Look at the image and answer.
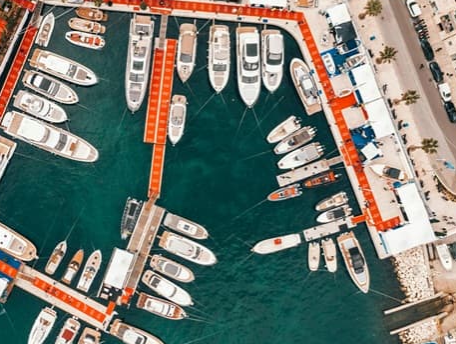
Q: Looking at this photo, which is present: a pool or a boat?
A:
boat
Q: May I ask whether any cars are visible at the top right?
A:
Yes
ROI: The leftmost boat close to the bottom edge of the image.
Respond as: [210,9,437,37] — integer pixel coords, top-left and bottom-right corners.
[27,303,57,344]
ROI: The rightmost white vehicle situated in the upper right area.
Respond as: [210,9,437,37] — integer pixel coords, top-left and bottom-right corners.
[436,82,454,103]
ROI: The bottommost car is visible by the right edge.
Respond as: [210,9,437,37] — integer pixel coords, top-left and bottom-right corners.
[443,101,456,124]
